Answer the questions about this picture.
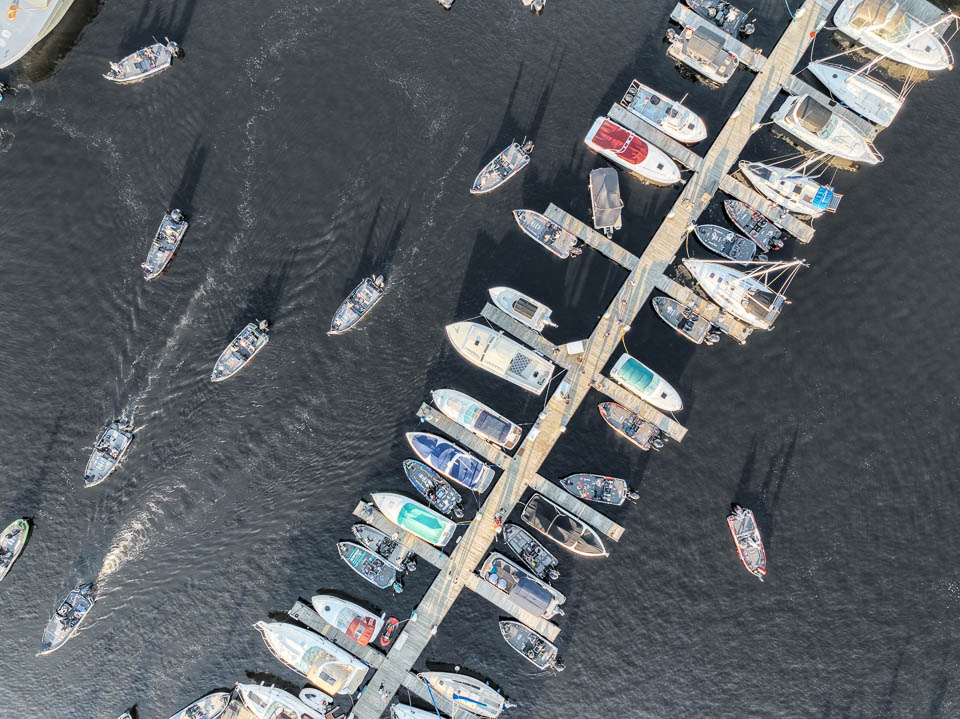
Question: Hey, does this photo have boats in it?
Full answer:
Yes, this view includes a boat.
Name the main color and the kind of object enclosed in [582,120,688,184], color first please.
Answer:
white boat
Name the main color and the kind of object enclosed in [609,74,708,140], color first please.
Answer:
white boat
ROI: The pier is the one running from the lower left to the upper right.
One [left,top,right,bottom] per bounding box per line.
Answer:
[343,0,838,719]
